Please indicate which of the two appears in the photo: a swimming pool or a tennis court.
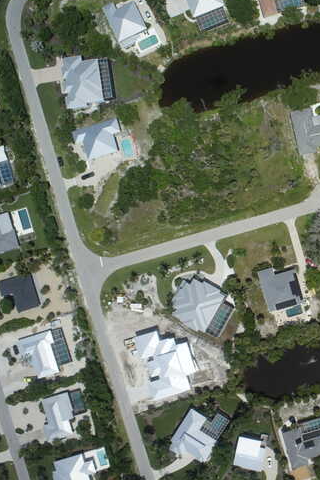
swimming pool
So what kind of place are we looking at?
residential area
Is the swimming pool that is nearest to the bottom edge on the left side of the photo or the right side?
left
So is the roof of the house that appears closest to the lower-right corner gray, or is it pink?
gray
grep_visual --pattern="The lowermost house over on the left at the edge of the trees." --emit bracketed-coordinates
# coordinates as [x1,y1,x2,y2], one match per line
[54,451,100,480]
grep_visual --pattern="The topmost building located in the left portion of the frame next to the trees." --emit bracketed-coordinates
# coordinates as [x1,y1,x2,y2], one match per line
[103,1,148,50]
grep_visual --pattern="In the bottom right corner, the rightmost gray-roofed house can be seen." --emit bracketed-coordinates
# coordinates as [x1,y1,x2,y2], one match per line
[282,418,320,471]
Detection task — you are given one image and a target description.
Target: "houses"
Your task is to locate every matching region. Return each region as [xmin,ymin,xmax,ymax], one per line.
[290,108,320,156]
[0,212,36,253]
[282,418,320,471]
[0,146,17,186]
[136,328,200,401]
[258,268,303,311]
[43,388,88,442]
[0,274,43,312]
[259,0,303,18]
[103,1,148,50]
[234,432,266,471]
[173,279,236,336]
[54,451,100,480]
[188,0,229,33]
[170,407,231,462]
[72,118,122,159]
[19,326,75,378]
[62,56,118,108]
